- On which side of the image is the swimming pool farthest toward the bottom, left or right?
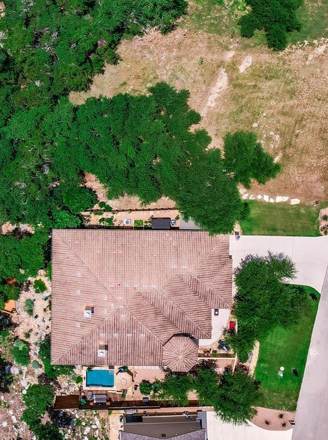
left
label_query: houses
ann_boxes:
[121,412,207,440]
[50,228,233,374]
